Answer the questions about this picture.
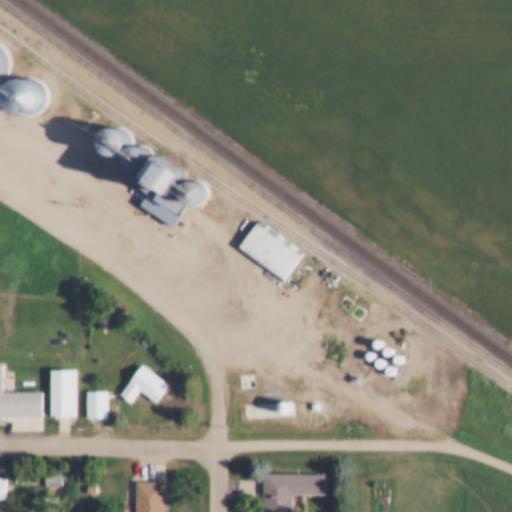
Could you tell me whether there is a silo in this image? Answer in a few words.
Yes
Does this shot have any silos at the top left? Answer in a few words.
Yes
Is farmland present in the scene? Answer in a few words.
Yes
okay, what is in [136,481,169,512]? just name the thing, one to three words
house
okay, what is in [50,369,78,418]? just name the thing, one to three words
building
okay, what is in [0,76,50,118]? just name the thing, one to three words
silo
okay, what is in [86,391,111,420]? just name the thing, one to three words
building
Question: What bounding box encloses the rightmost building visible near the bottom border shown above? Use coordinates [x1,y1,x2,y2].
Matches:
[263,474,328,512]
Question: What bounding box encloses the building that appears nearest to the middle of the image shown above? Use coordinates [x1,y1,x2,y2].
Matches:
[240,220,306,282]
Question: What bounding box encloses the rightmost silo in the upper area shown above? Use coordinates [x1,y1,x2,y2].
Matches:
[180,179,211,207]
